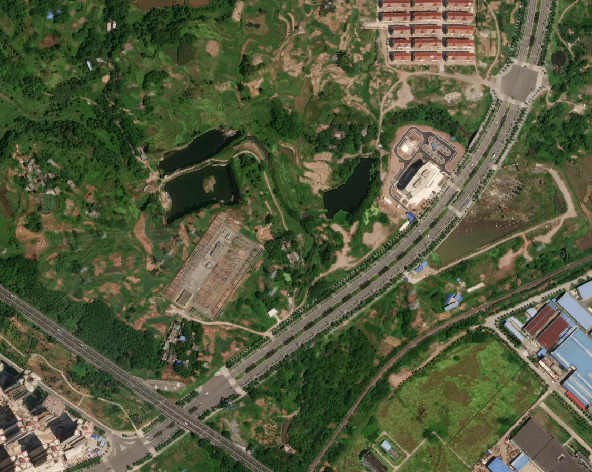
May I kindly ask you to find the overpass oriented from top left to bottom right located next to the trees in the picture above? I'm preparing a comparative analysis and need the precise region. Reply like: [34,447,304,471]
[151,393,213,440]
